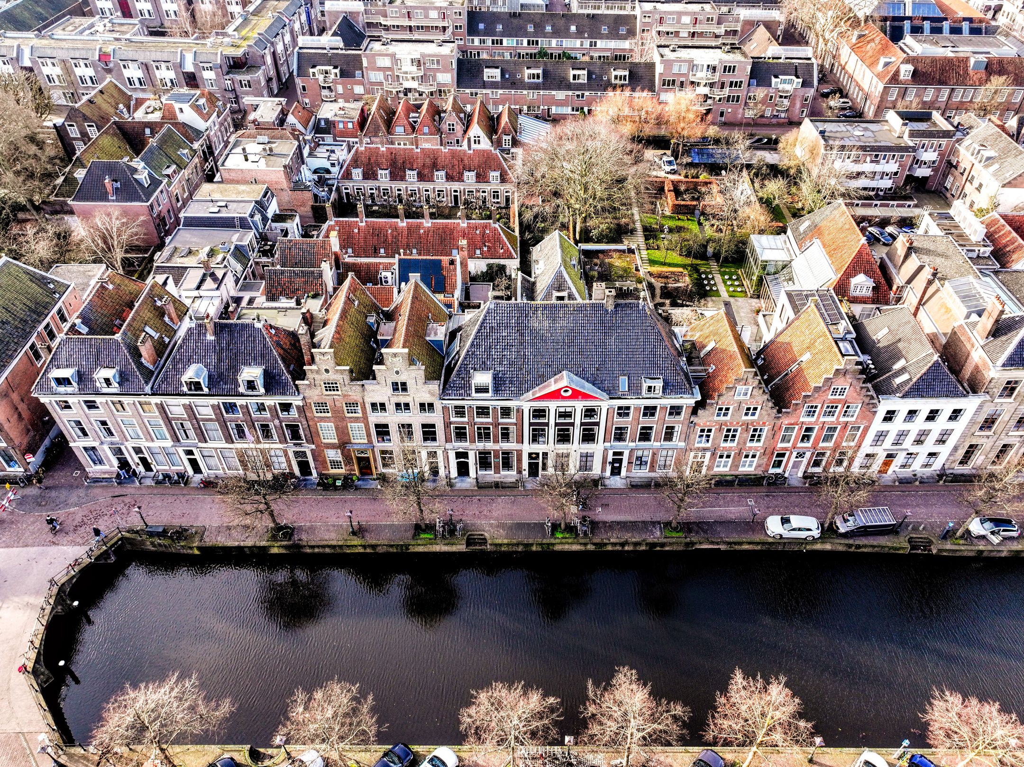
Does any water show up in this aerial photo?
Yes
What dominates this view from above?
buildings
